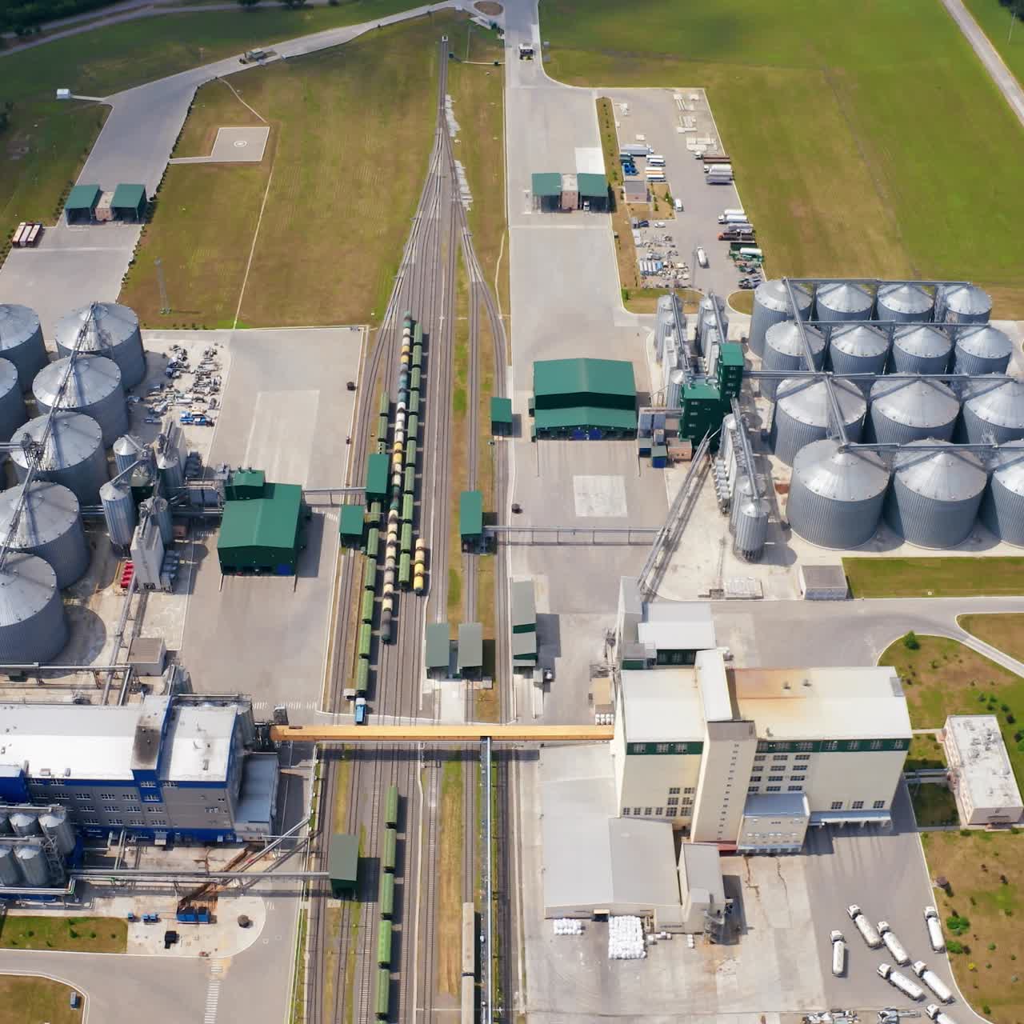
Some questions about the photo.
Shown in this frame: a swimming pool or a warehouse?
warehouse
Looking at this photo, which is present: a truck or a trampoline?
truck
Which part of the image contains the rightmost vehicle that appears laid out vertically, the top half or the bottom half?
bottom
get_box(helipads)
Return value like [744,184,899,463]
[169,126,269,163]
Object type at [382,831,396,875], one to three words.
rail car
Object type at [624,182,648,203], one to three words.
building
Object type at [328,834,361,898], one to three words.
shed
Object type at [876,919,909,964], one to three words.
truck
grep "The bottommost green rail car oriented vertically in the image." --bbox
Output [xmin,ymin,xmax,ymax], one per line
[373,969,389,1021]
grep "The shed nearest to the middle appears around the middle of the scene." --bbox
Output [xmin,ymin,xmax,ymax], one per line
[461,492,482,552]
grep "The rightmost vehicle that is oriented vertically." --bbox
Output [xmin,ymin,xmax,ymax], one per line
[925,905,945,950]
